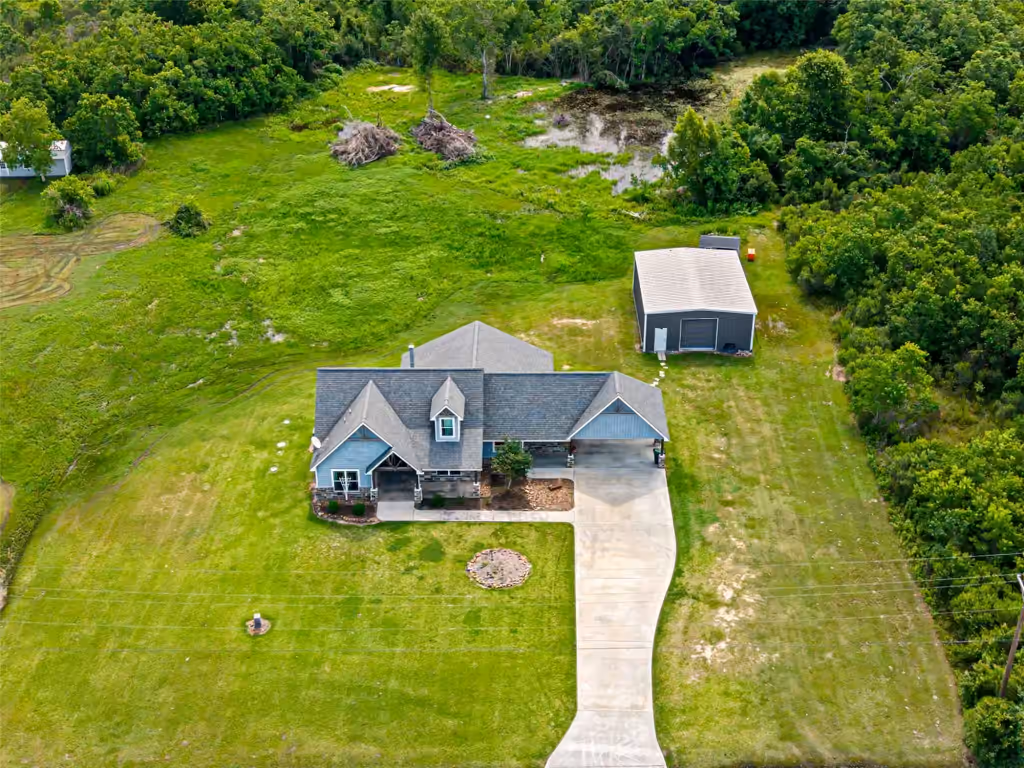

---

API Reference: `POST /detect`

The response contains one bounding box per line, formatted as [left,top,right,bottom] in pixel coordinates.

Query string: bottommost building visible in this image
[309,321,671,503]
